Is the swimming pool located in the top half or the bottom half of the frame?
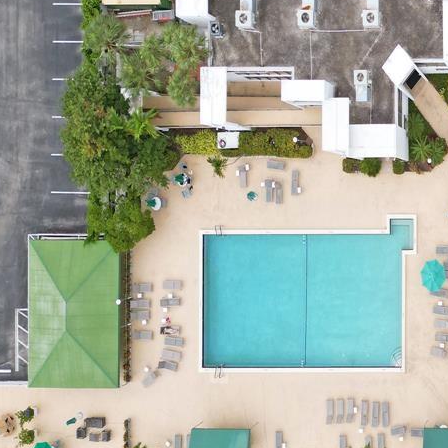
bottom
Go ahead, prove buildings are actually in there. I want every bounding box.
[176,0,448,160]
[28,231,132,388]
